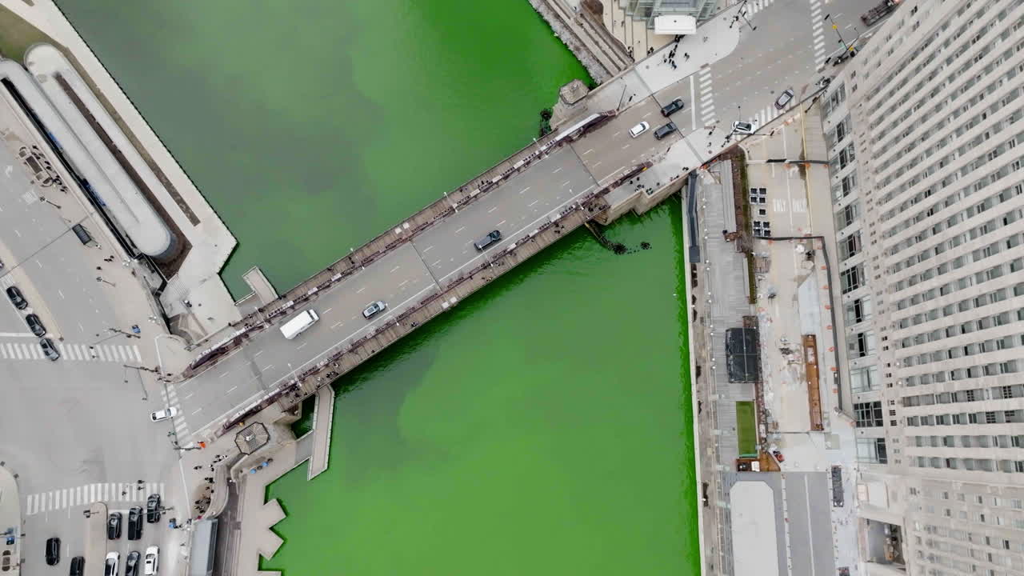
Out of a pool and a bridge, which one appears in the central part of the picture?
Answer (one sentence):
Looking in the central part of the picture, you will find a bridge.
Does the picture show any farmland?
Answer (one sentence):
No, farmland can't be seen anywhere here.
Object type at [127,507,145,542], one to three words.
vehicle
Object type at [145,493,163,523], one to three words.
car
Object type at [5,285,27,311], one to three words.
car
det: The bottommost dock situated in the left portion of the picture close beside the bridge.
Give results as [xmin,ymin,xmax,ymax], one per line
[294,386,336,482]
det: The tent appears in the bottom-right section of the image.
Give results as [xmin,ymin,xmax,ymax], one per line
[724,481,779,576]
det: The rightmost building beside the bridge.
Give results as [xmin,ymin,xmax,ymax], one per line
[820,0,1024,490]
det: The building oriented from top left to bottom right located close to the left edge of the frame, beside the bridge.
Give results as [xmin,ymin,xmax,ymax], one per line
[0,42,175,258]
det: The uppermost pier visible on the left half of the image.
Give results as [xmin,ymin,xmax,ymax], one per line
[233,266,278,317]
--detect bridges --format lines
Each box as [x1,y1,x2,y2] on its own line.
[180,105,650,437]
